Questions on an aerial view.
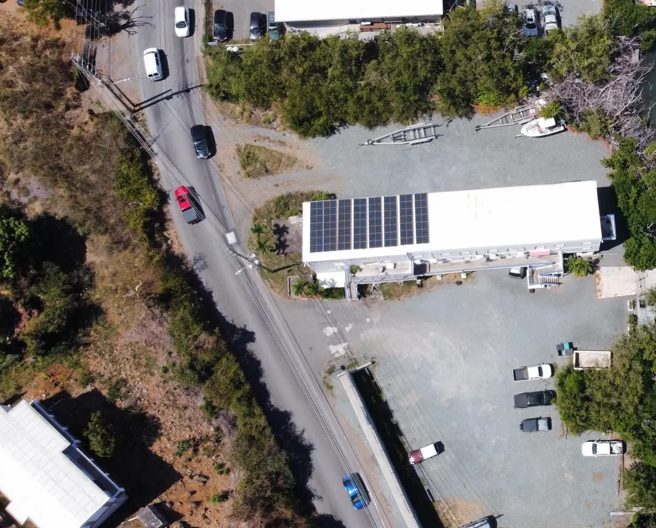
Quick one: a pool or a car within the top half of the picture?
car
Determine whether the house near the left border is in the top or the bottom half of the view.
bottom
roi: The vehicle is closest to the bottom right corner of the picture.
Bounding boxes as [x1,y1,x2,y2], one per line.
[580,439,624,458]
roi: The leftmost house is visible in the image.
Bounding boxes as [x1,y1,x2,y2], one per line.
[0,397,138,528]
